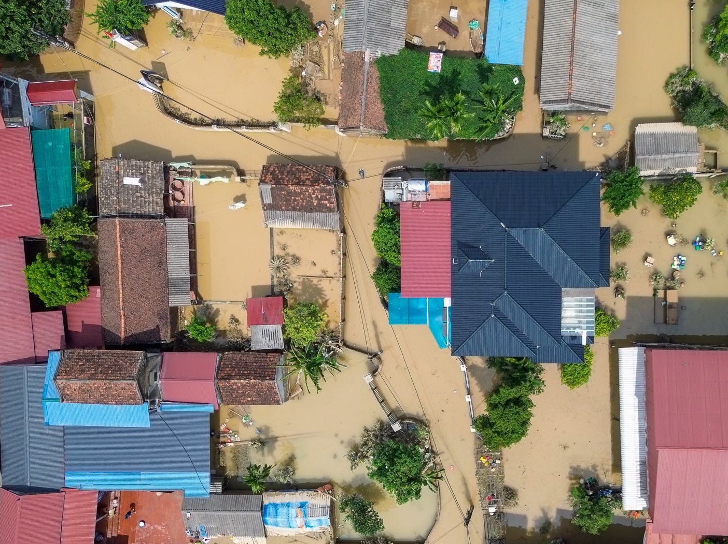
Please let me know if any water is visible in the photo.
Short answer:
Yes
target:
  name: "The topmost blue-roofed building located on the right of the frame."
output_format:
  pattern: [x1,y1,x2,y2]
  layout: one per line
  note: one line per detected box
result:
[484,0,528,67]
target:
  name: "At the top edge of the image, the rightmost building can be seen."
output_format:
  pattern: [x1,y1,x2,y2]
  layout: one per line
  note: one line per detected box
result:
[539,0,618,118]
